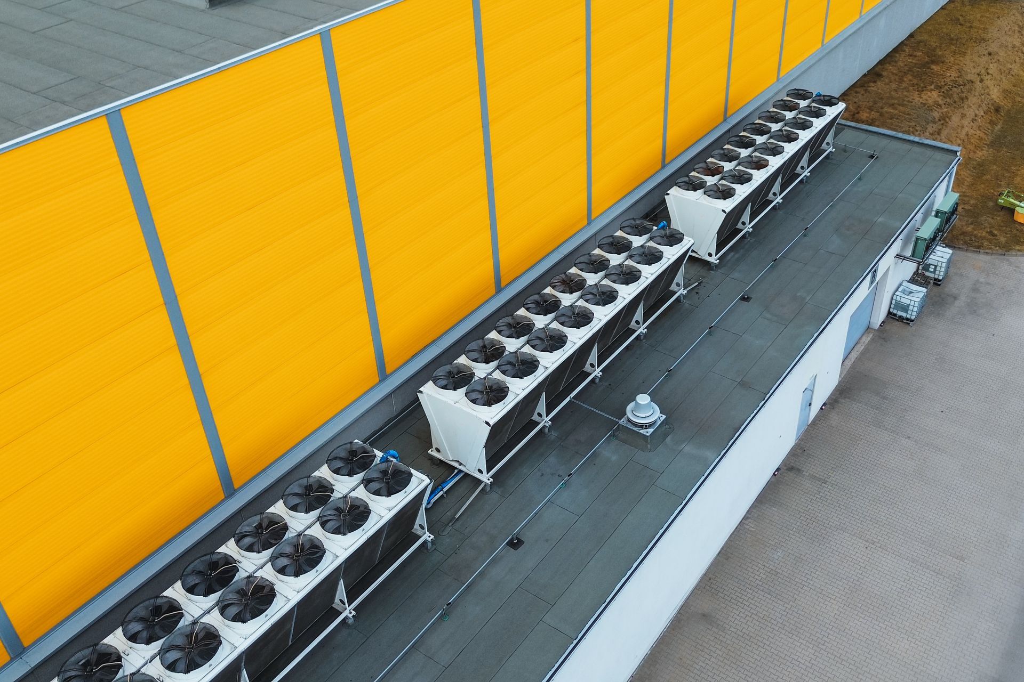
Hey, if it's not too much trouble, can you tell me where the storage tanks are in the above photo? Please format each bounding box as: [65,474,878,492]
[917,246,955,285]
[889,282,929,327]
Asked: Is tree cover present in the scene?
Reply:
No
